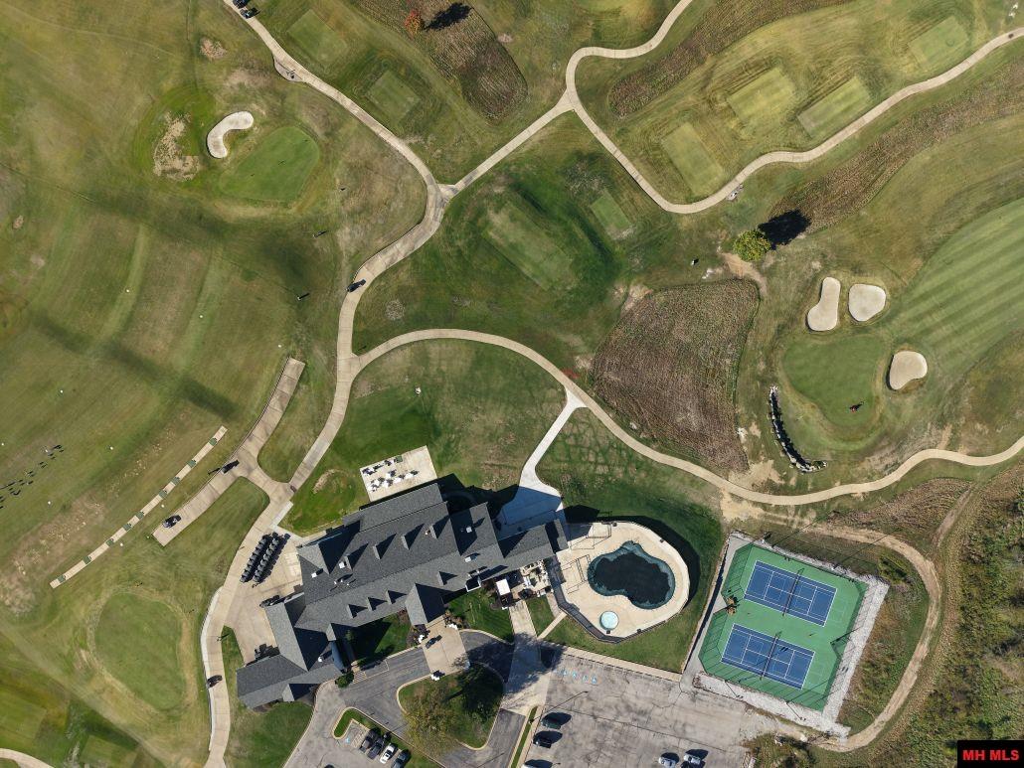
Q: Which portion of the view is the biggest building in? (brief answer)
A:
bottom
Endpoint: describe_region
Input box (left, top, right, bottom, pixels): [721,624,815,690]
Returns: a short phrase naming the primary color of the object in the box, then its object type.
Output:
blue tennis court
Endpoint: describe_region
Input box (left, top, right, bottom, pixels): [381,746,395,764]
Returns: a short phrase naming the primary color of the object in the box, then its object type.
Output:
white car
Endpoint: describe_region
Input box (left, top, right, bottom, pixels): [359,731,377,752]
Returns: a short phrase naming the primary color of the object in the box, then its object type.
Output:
gray vehicle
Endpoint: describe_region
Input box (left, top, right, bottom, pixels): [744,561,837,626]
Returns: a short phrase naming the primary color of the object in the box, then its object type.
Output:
blue tennis court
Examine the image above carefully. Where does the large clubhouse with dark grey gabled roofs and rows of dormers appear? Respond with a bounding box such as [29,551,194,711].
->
[238,483,568,709]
